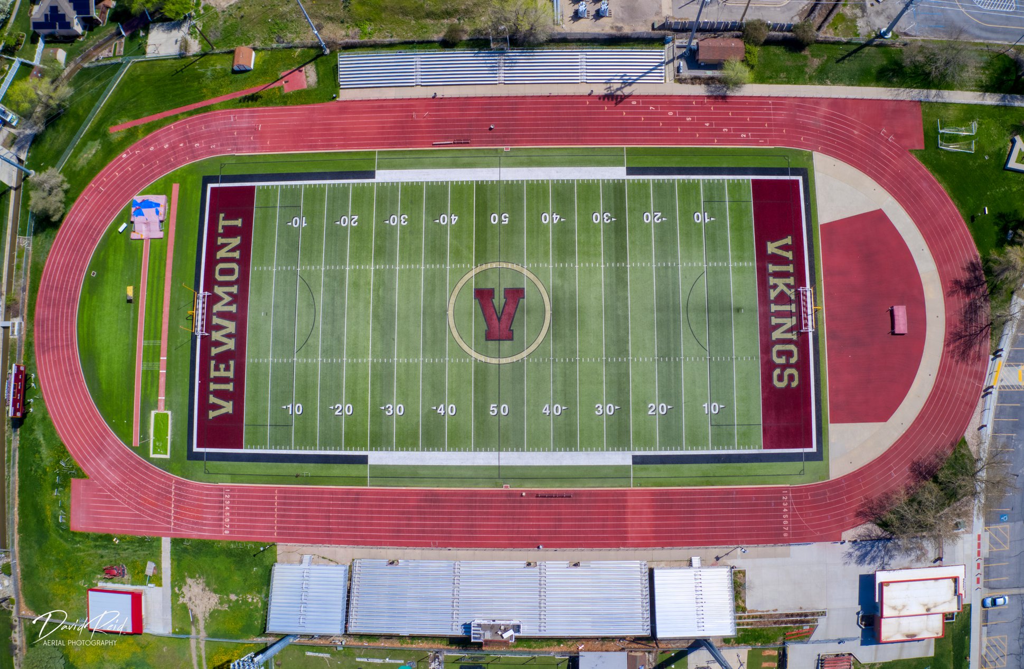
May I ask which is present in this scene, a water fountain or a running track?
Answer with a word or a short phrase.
running track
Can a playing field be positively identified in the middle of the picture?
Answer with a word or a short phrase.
Yes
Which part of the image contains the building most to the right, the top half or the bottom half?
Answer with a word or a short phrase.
bottom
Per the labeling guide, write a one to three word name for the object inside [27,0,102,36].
house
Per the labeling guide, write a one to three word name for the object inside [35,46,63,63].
shed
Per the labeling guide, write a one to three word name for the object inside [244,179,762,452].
sports field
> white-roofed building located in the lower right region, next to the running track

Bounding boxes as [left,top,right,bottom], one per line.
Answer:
[870,564,967,643]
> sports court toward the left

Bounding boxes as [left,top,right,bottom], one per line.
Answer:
[146,19,187,54]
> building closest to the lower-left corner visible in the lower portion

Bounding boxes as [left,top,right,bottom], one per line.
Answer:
[87,586,145,633]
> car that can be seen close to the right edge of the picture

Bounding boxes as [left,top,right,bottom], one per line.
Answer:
[983,595,1012,610]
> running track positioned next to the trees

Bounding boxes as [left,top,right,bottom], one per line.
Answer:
[34,95,991,548]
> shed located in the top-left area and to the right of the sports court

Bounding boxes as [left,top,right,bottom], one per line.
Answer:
[231,44,254,71]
